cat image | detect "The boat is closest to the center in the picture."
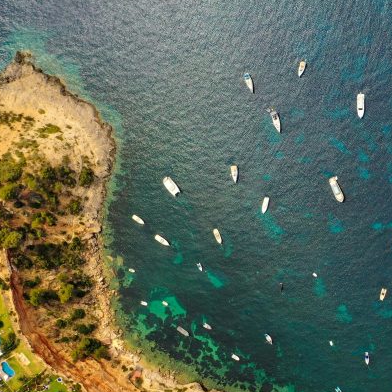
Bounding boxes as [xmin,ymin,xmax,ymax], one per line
[162,176,180,197]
